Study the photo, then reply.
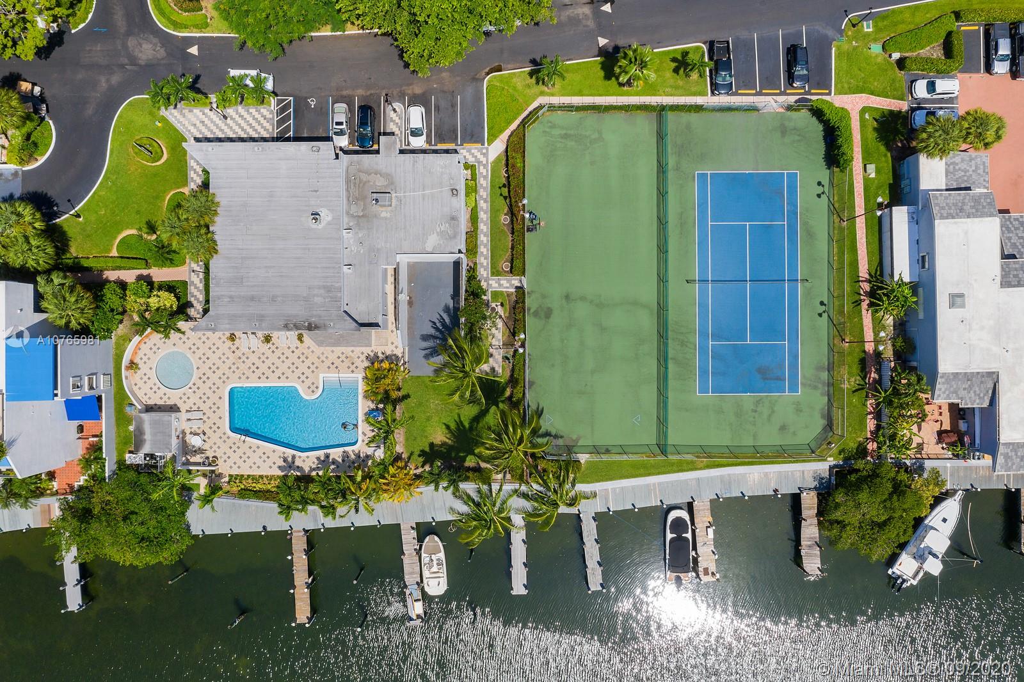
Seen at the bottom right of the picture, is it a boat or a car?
boat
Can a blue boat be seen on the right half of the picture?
No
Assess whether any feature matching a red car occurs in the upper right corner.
No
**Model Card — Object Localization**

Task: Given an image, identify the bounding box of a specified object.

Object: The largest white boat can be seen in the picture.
[884,492,963,603]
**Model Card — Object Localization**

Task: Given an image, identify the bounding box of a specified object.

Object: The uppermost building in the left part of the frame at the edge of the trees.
[183,137,466,331]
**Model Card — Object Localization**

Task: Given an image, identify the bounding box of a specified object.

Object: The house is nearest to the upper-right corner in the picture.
[877,153,1024,476]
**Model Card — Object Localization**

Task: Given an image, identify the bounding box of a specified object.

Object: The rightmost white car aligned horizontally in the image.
[911,76,961,100]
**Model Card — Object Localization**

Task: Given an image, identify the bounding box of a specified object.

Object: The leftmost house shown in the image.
[0,281,113,478]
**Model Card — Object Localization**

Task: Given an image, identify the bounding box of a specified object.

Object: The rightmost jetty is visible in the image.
[1003,490,1024,554]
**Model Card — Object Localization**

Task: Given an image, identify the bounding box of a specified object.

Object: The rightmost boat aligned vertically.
[667,510,693,590]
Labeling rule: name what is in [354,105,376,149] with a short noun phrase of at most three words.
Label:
car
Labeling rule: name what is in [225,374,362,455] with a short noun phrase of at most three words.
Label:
swimming pool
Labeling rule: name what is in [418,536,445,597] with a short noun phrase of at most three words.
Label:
boat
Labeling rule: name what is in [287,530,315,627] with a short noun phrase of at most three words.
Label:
pier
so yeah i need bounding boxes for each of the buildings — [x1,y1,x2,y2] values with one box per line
[183,137,466,331]
[0,281,113,478]
[877,153,1024,476]
[133,412,186,455]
